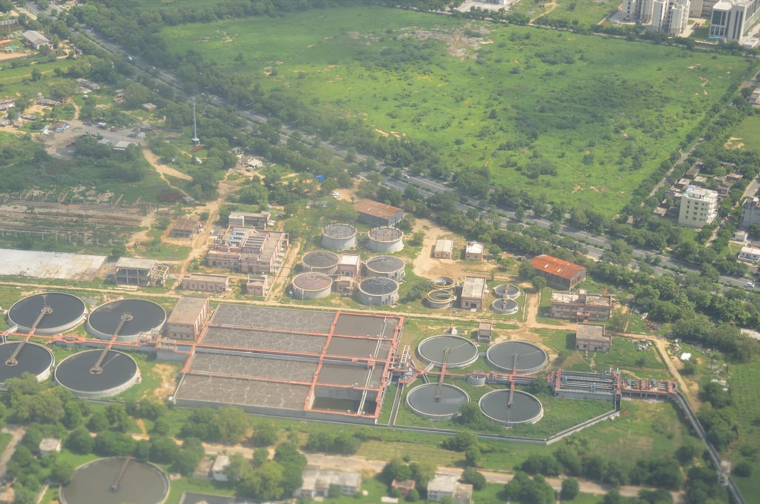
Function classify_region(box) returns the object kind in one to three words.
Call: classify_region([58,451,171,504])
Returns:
storage tank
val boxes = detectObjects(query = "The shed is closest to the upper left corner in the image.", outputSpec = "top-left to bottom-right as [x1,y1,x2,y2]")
[19,30,51,50]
